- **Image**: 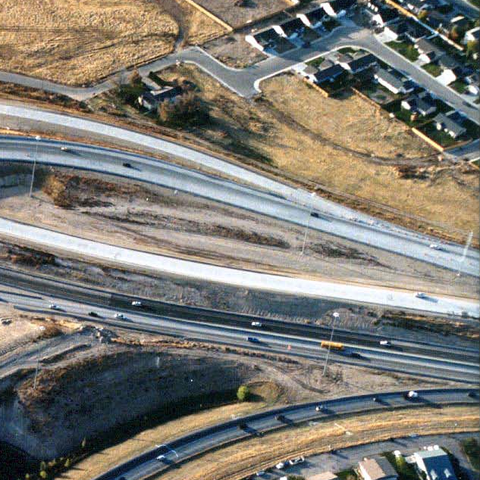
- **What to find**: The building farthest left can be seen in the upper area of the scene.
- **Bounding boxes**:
[138,87,178,107]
